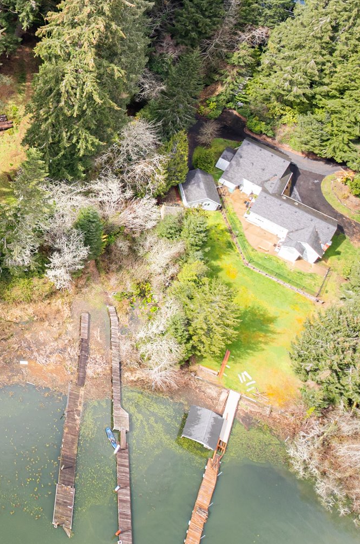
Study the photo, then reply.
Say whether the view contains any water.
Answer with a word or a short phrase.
Yes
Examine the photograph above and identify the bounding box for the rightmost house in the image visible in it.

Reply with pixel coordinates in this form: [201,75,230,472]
[212,136,338,263]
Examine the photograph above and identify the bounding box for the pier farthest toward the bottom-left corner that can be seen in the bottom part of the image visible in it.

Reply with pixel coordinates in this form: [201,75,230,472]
[52,484,75,538]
